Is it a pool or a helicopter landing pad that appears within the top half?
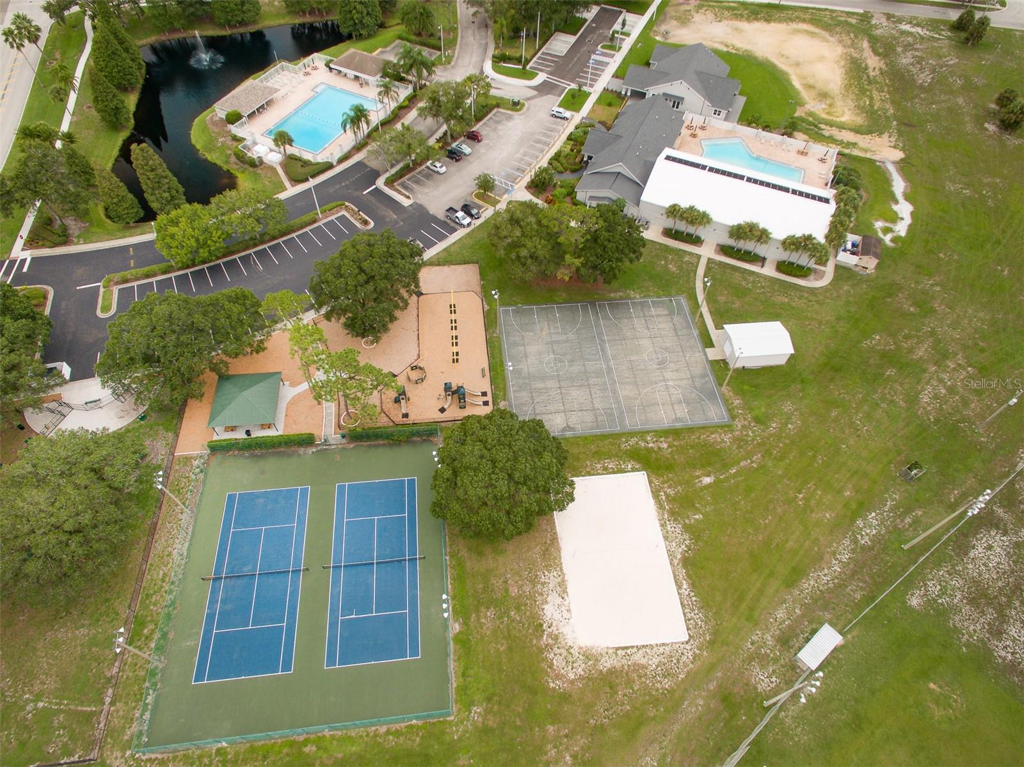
pool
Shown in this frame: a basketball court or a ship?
basketball court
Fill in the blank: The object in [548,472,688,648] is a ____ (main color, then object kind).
white sports court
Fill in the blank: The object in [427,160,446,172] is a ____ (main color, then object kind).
white vehicle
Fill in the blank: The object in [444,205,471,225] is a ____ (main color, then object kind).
white vehicle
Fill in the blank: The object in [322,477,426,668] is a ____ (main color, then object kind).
blue tennis court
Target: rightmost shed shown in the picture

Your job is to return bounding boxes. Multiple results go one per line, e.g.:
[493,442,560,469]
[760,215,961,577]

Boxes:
[860,238,888,271]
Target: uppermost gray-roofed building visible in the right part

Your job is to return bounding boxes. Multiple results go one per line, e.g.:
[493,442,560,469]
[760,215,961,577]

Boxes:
[617,43,743,118]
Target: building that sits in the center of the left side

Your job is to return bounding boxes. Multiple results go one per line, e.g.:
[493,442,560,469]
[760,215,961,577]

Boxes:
[208,373,284,434]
